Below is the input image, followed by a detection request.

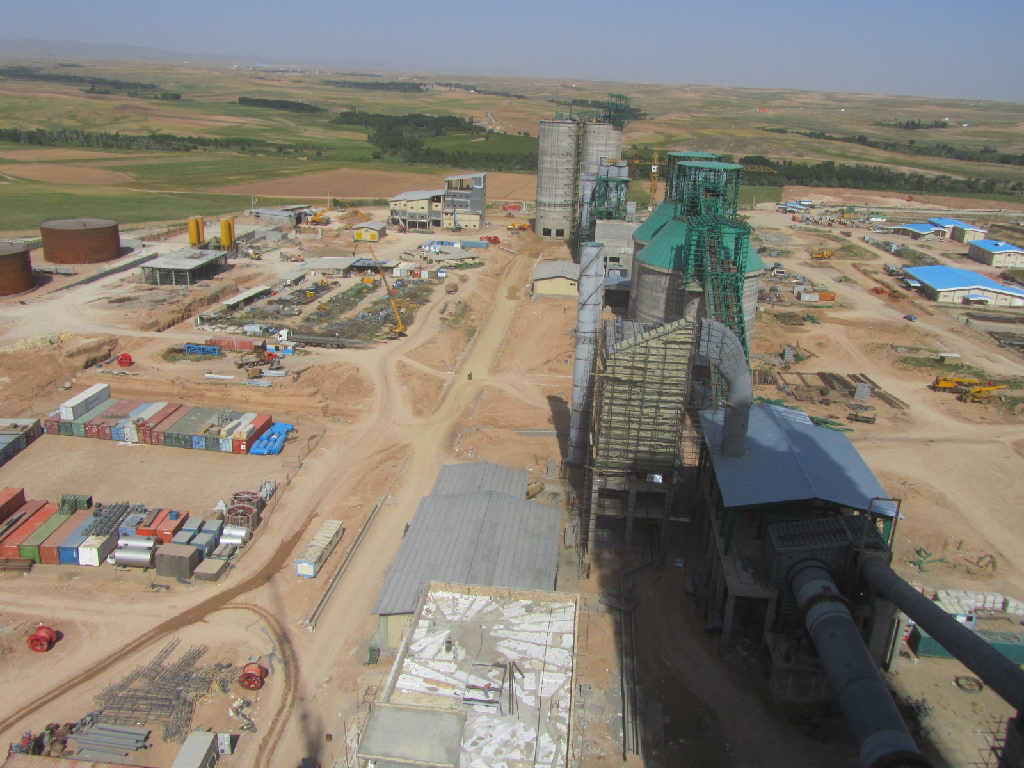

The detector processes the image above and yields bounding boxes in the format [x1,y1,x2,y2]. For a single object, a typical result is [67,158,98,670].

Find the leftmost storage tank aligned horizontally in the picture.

[11,212,118,263]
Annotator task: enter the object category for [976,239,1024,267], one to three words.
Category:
building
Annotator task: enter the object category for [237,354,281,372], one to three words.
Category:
vehicle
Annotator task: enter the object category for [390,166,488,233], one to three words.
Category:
building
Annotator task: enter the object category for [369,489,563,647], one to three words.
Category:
warehouse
